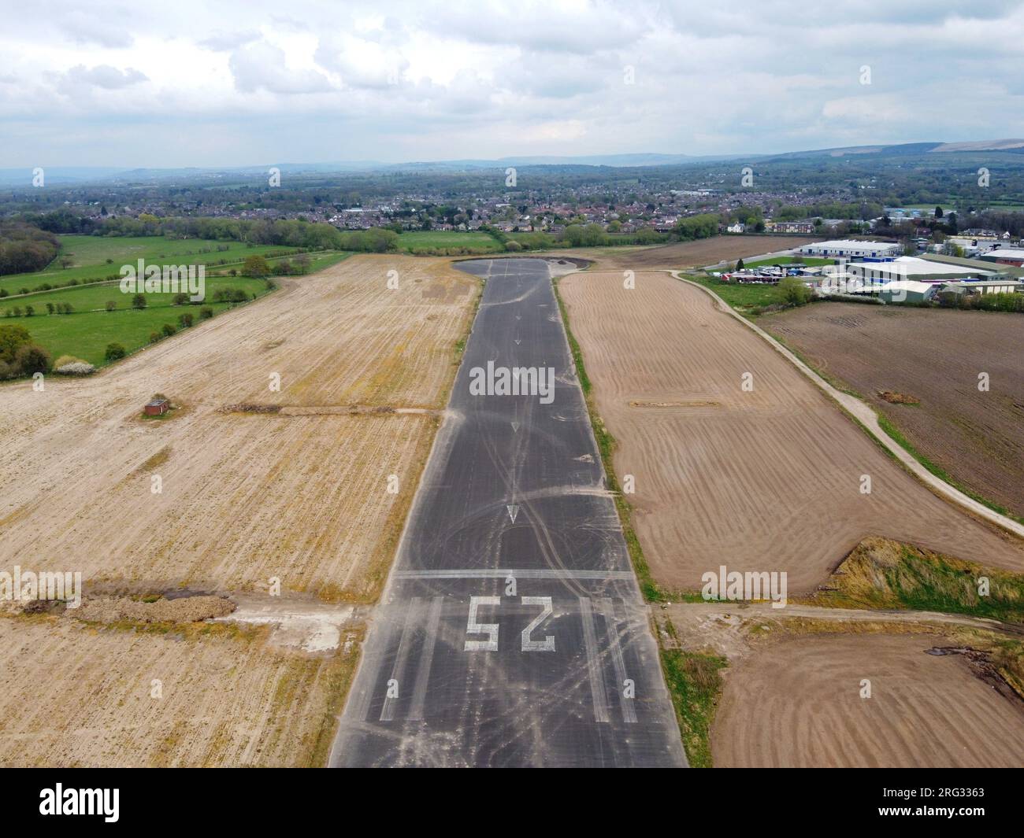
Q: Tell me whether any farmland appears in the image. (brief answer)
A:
Yes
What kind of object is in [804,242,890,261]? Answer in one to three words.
building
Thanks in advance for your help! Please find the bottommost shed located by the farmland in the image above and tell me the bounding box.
[142,402,172,416]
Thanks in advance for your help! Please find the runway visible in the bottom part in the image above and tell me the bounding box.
[308,258,709,838]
